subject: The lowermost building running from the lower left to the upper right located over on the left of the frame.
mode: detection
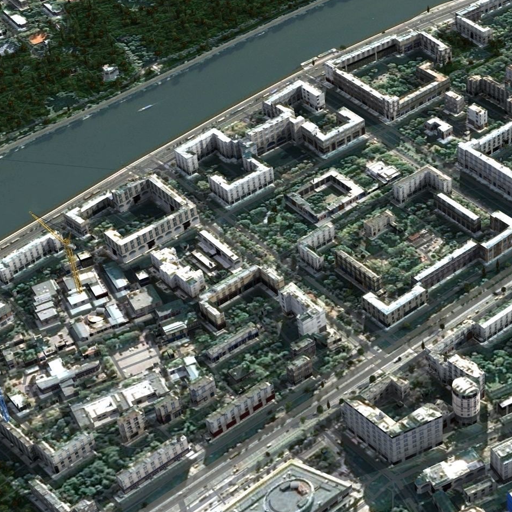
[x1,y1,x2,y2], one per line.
[115,434,190,491]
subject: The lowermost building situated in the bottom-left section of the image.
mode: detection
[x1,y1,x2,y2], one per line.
[27,473,88,512]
